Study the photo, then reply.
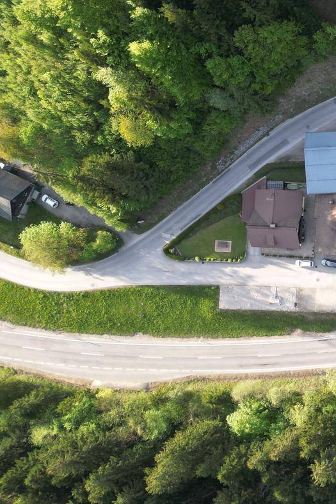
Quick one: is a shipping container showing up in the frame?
No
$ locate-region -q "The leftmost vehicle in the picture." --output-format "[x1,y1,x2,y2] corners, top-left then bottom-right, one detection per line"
[40,194,58,207]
